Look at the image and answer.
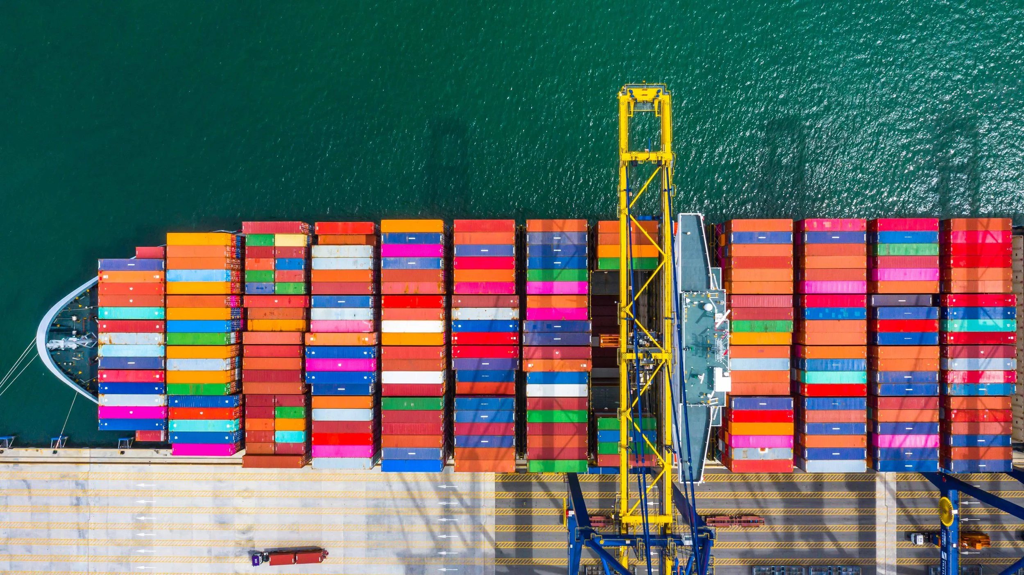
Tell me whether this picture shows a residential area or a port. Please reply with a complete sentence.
It's a port.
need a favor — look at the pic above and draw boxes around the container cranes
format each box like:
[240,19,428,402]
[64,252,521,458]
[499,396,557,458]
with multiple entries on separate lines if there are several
[903,462,1024,575]
[558,72,731,575]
